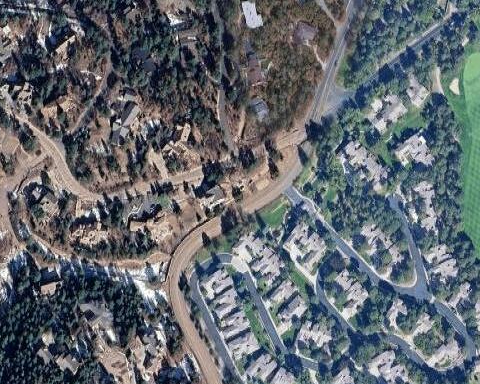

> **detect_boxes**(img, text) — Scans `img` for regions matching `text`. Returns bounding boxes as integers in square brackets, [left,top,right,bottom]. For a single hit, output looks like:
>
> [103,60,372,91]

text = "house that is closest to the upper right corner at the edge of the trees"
[403,79,434,106]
